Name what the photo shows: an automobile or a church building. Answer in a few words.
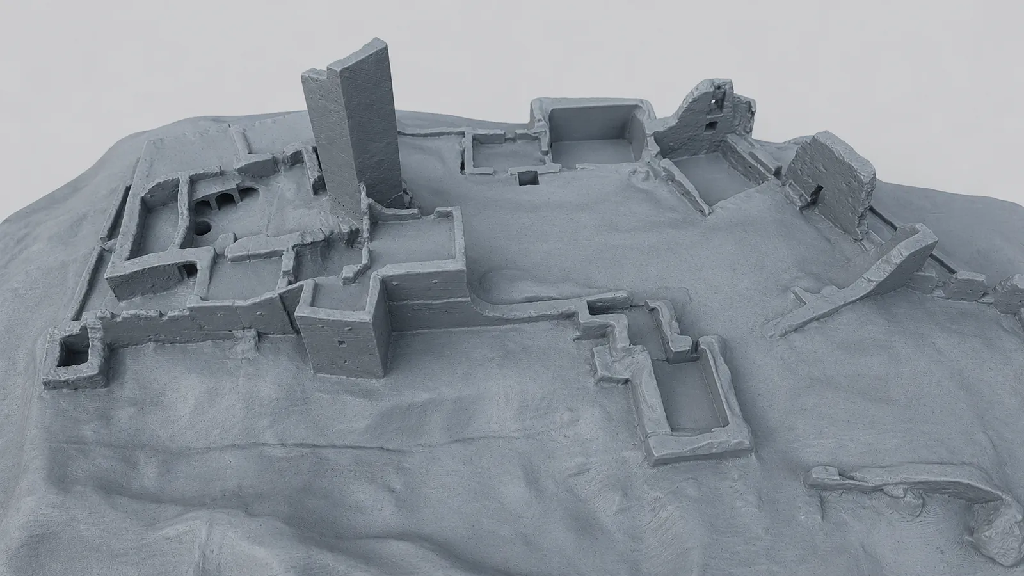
church building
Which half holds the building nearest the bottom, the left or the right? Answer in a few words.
right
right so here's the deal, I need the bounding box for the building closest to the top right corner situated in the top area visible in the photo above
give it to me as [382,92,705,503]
[647,78,782,215]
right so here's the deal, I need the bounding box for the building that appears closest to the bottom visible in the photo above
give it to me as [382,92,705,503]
[592,337,753,462]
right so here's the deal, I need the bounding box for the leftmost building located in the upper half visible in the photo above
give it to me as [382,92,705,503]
[106,112,337,302]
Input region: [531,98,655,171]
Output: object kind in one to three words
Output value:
building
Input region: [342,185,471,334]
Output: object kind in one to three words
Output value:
building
